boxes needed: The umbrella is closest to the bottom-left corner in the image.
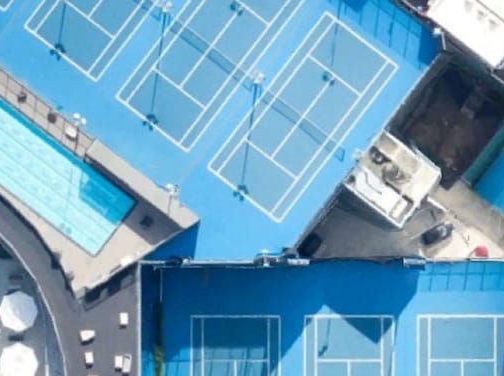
[0,344,38,376]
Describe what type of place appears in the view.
sports ground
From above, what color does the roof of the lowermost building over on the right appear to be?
white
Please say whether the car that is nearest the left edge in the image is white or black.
black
